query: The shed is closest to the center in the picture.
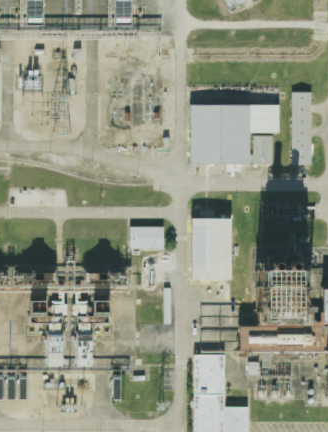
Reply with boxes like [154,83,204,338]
[130,227,164,250]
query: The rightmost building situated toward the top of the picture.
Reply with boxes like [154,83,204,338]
[292,92,312,166]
